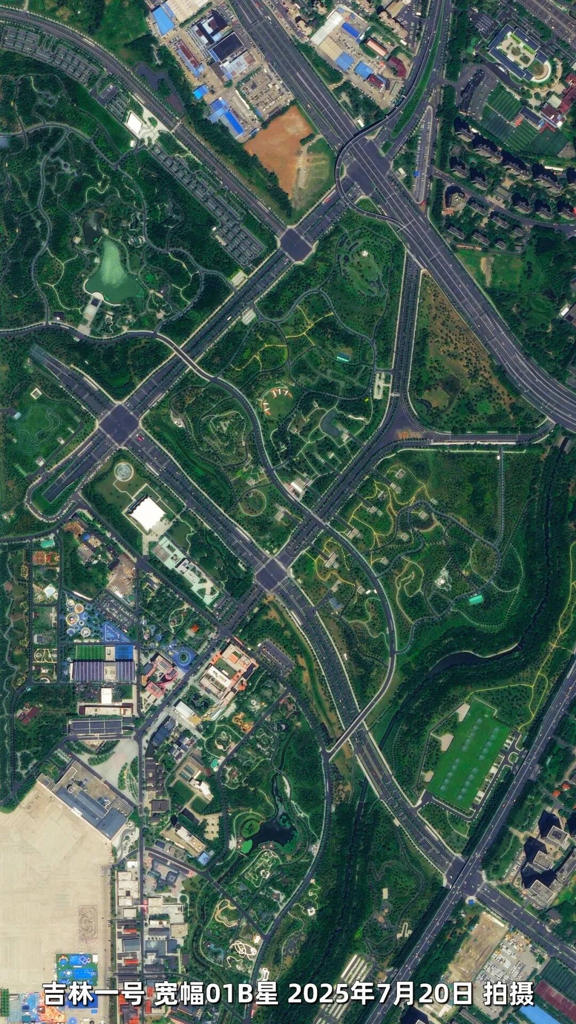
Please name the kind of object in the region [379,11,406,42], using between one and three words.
building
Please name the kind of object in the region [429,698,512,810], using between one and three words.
sports field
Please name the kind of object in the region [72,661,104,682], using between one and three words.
building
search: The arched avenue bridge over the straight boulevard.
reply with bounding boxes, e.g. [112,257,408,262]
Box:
[150,330,218,383]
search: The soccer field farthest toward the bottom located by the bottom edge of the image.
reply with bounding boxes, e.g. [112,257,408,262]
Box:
[541,958,576,1002]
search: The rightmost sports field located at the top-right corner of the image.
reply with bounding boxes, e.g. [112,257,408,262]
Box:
[528,129,569,155]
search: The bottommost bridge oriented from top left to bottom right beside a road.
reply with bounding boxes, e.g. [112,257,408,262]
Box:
[277,486,352,551]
